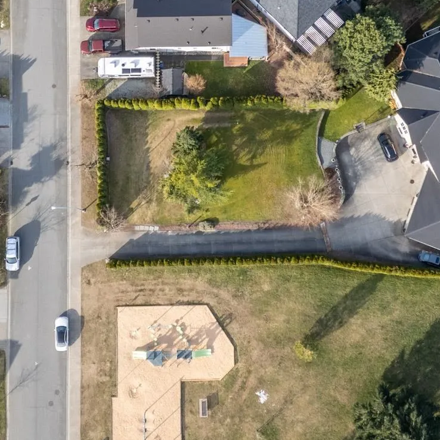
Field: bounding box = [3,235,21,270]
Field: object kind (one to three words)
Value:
car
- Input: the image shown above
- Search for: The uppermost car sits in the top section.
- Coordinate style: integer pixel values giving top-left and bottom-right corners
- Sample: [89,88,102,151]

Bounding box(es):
[87,15,120,33]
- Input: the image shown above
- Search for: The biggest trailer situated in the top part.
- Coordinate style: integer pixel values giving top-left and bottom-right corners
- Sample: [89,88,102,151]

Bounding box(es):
[94,56,154,76]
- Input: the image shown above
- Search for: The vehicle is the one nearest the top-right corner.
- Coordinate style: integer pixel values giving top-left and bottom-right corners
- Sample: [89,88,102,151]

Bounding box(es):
[376,129,399,164]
